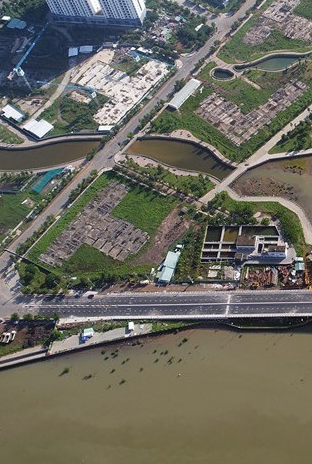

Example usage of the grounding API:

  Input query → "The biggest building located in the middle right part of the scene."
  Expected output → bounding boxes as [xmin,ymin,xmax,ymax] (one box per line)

[200,225,286,264]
